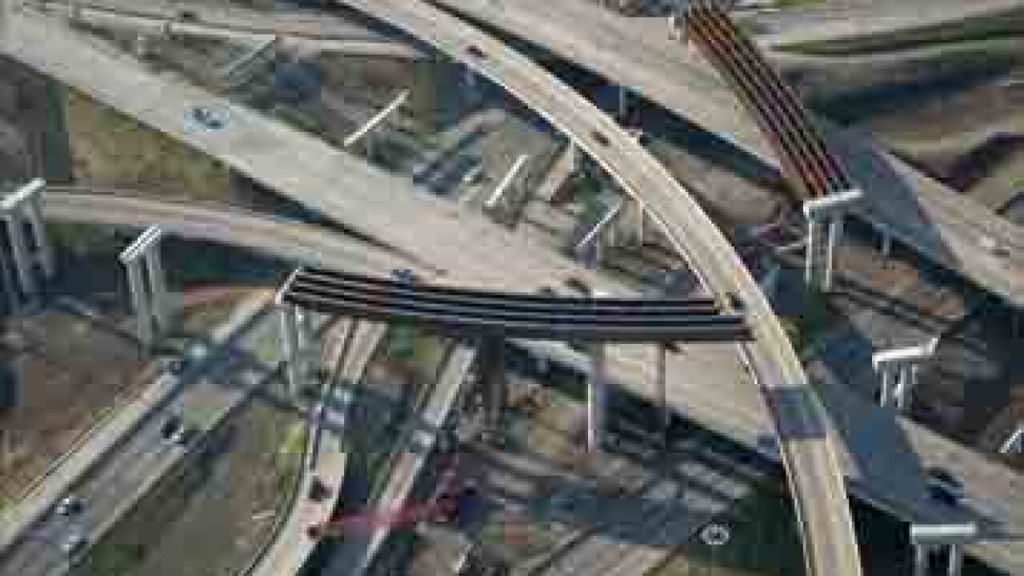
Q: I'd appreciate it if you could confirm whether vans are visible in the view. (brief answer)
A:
Yes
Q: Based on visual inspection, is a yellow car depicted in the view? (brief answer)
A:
No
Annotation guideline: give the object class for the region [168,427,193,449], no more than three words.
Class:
car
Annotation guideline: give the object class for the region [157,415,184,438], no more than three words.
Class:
car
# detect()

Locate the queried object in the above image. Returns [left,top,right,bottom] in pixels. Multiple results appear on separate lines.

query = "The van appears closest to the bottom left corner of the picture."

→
[53,530,88,560]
